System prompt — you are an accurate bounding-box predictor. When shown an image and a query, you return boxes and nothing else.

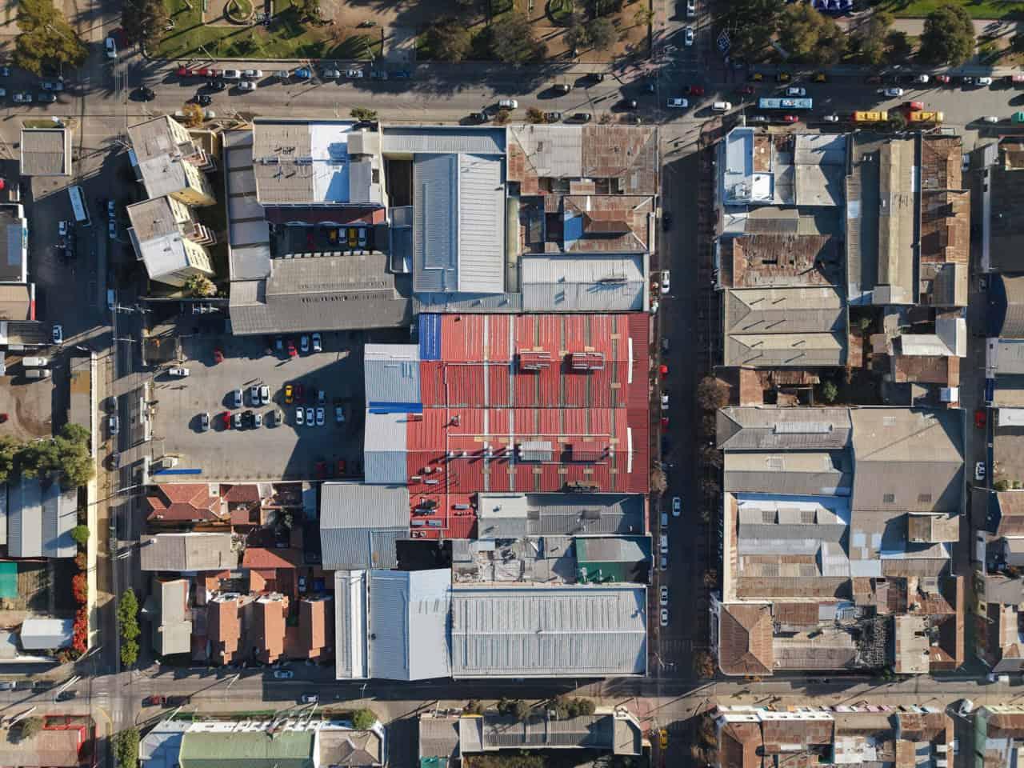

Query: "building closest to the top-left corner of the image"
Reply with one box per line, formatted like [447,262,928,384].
[20,128,78,181]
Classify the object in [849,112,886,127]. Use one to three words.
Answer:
vehicle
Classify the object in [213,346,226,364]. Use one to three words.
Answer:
vehicle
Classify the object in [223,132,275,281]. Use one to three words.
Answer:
building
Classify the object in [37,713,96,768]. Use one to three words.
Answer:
house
